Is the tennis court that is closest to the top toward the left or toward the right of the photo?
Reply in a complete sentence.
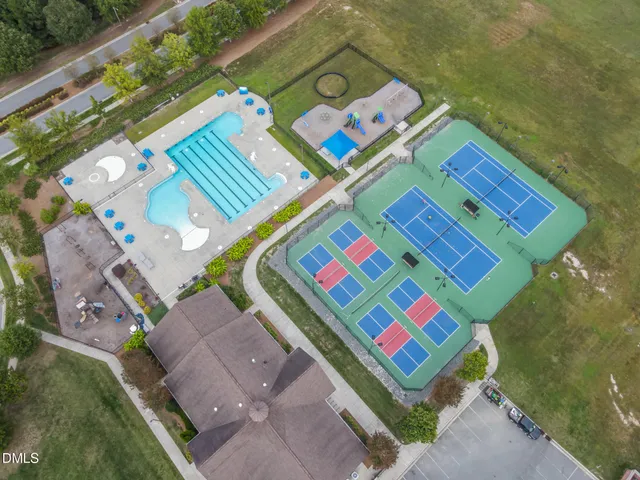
It is on the right.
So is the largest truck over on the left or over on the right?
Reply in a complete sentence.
The largest truck is on the right side of the image.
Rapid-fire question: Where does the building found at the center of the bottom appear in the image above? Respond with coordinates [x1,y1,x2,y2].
[145,285,368,480]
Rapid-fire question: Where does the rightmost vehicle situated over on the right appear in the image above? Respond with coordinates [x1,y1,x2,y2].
[504,410,542,444]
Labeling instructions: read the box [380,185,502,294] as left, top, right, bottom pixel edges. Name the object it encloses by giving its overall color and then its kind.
blue tennis court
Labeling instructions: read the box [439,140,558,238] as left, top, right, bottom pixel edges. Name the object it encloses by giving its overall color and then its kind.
blue tennis court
